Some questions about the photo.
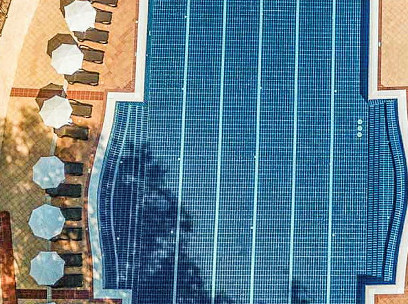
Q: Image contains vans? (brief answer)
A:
No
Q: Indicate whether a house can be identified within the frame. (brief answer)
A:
No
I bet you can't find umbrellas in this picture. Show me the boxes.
[39,92,81,128]
[52,42,91,75]
[28,246,73,287]
[31,154,73,190]
[27,201,73,242]
[62,0,104,34]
